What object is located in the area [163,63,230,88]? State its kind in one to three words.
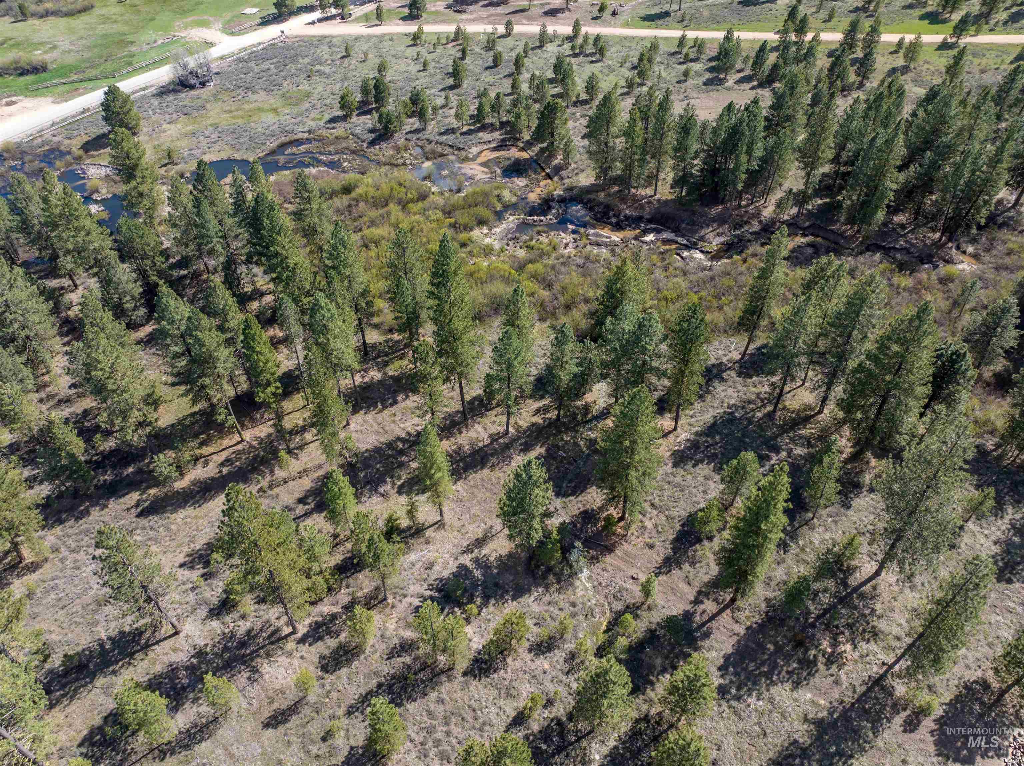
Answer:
shed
